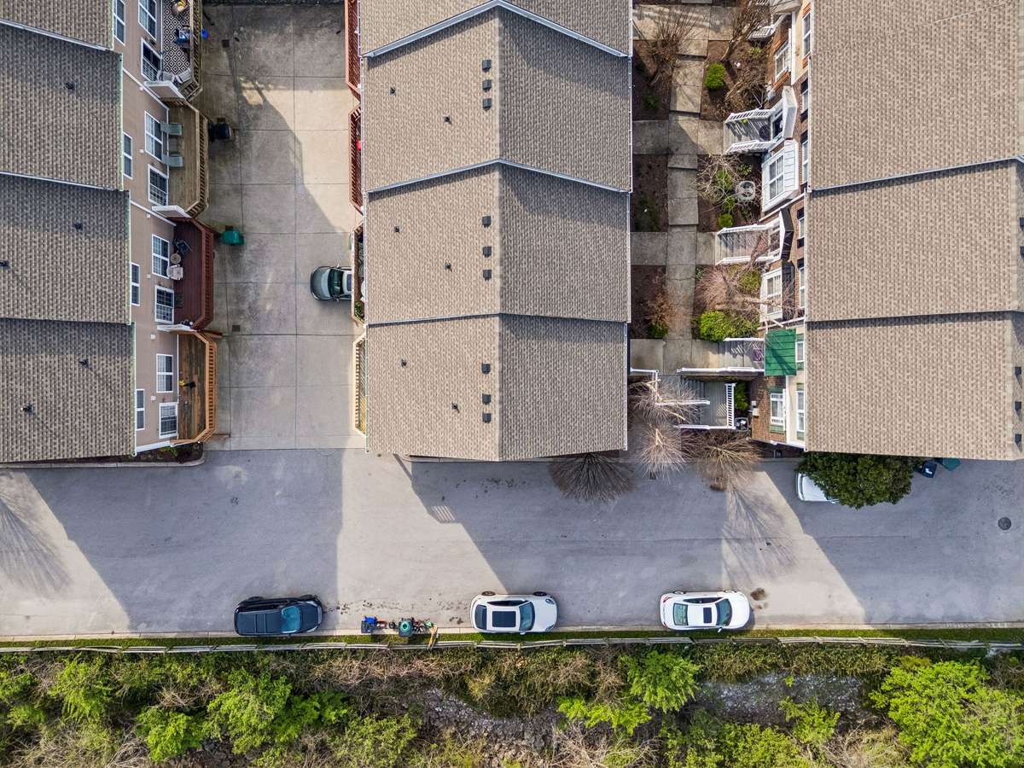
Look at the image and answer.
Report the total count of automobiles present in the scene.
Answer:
5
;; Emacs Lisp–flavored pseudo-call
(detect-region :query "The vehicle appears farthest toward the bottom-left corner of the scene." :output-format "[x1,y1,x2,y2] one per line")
[232,595,325,643]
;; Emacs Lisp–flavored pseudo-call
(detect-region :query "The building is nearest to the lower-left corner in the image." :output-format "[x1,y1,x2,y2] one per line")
[0,318,217,462]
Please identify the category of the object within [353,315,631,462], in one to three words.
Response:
house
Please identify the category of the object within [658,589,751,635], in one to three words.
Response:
car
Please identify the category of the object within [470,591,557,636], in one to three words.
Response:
car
